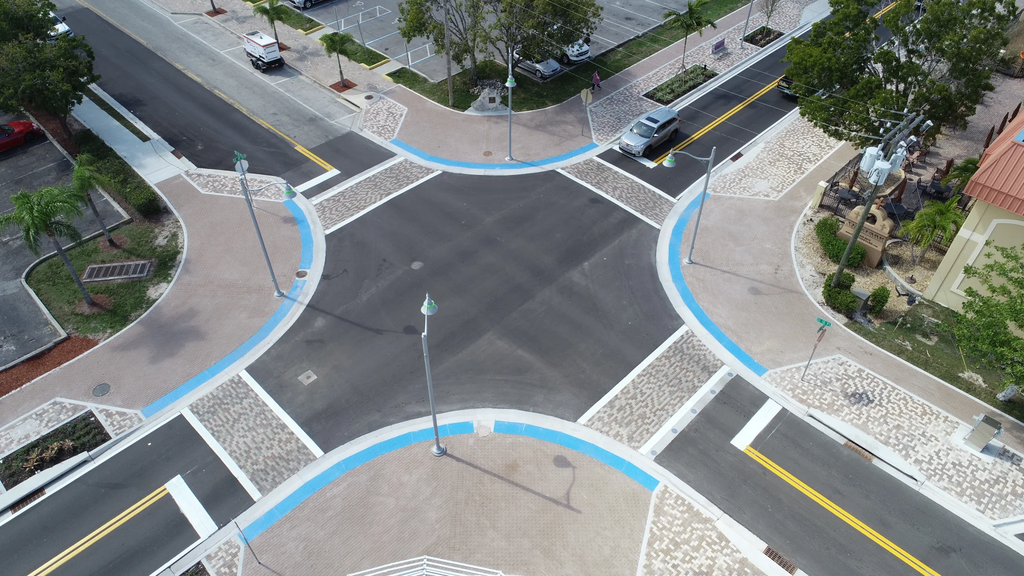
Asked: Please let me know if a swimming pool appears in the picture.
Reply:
No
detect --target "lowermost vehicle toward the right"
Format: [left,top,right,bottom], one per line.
[618,106,683,159]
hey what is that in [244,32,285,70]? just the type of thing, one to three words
trailer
